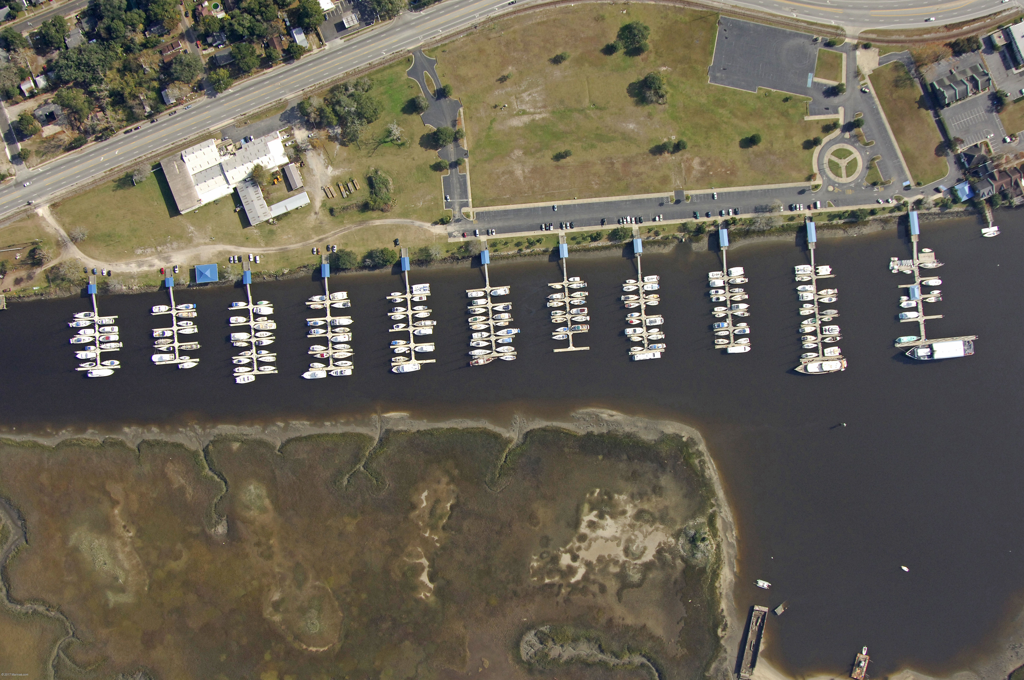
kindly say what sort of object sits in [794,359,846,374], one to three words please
boat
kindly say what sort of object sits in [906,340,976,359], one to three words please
vessel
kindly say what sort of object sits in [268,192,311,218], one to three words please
shed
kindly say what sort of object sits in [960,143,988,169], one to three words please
building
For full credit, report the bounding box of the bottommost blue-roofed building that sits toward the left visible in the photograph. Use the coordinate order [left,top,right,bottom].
[195,263,219,283]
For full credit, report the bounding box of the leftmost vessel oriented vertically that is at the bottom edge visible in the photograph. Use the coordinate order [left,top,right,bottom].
[738,605,768,679]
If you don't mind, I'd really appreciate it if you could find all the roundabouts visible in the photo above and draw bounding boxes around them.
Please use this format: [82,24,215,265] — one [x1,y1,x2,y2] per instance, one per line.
[824,144,862,182]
